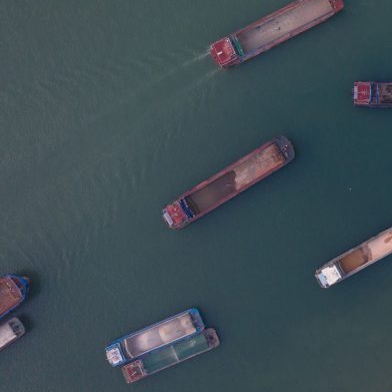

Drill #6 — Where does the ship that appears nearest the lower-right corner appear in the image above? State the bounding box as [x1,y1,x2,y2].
[315,228,392,290]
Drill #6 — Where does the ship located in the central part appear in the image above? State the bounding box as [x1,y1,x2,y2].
[165,140,296,230]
